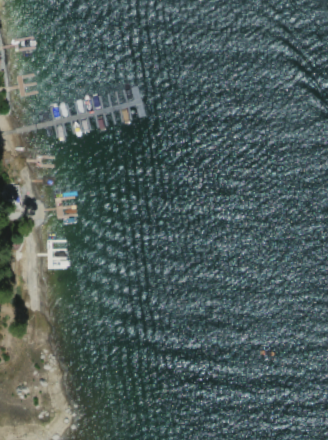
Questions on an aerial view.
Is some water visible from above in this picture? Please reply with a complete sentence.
Yes, there is water in the image.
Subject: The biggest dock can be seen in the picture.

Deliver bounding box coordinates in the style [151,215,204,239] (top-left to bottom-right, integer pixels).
[2,86,146,138]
